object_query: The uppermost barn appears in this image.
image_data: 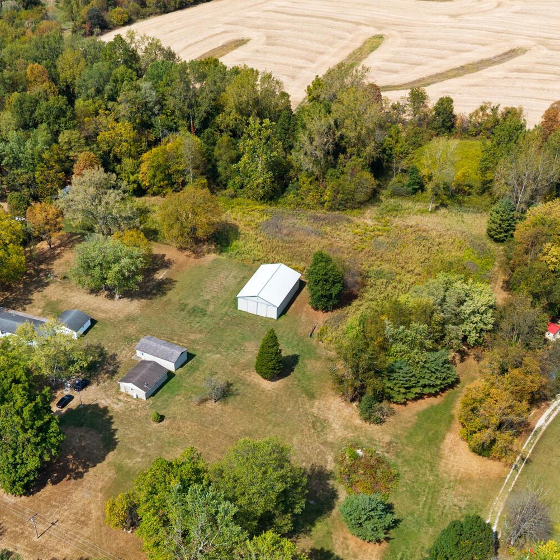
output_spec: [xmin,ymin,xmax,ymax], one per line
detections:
[235,264,303,320]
